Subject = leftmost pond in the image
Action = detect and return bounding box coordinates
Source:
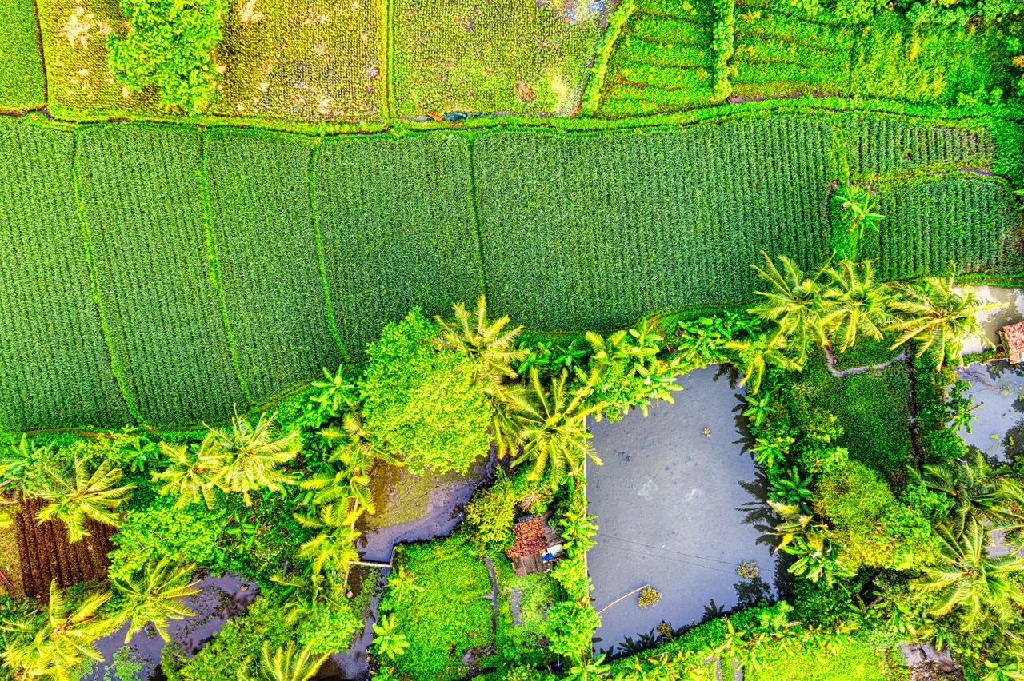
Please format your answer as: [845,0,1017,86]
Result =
[76,570,264,681]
